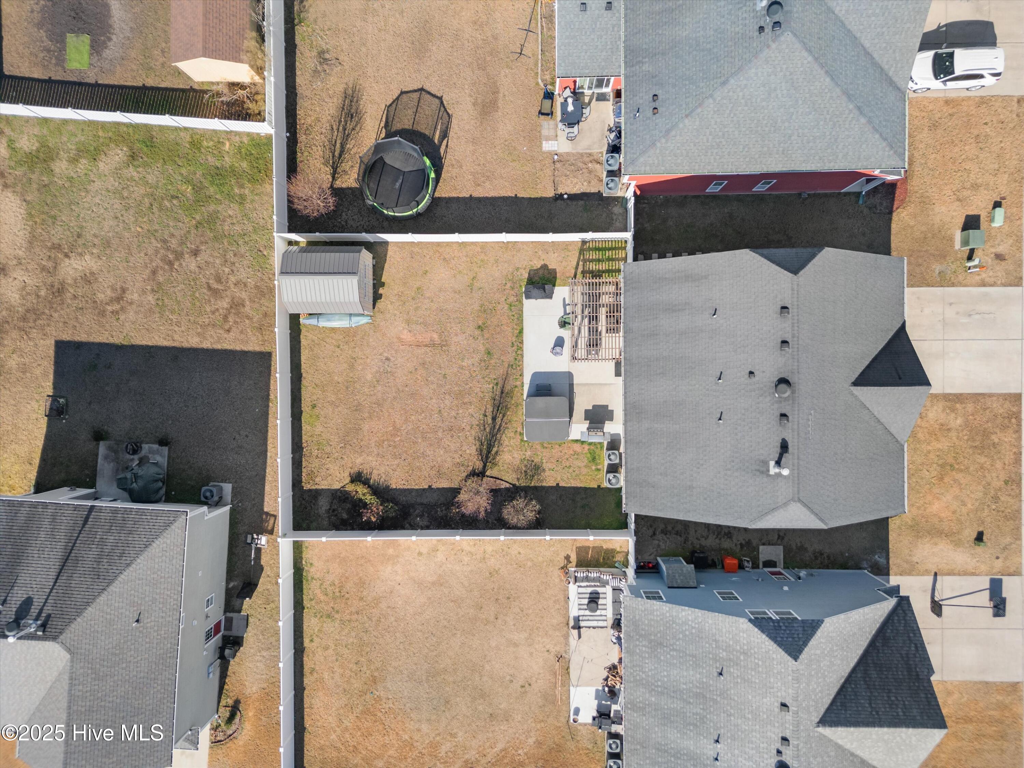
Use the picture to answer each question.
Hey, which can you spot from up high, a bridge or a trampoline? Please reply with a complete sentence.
Visible in the photo is a trampoline.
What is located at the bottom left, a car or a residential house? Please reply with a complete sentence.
Visible at the bottom left is a residential house.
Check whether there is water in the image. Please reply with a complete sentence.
No, there's no water in this view.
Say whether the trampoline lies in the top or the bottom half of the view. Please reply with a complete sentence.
Seen from above, the trampoline lies in the top half of the view.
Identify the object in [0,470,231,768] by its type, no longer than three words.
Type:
house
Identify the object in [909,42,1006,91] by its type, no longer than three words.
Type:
car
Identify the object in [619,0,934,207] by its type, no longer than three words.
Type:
house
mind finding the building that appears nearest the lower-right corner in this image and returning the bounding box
[619,557,949,768]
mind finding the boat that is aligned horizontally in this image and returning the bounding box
[300,314,372,328]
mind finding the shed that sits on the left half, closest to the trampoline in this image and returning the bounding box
[279,245,377,315]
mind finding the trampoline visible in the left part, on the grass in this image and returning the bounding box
[356,135,436,220]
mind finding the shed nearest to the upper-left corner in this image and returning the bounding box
[171,0,261,82]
